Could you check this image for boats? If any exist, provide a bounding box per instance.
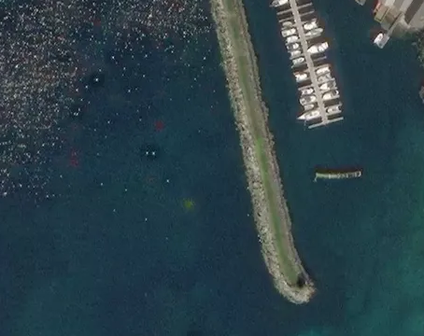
[299,95,317,105]
[285,43,300,51]
[299,88,314,95]
[280,28,297,37]
[290,57,306,65]
[375,32,385,46]
[272,0,291,7]
[316,67,332,76]
[322,91,340,101]
[305,27,325,37]
[302,21,318,30]
[302,104,316,111]
[307,40,331,54]
[285,36,299,44]
[296,109,323,124]
[317,73,334,82]
[294,73,308,82]
[288,50,301,57]
[280,22,294,30]
[325,105,342,113]
[319,81,337,91]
